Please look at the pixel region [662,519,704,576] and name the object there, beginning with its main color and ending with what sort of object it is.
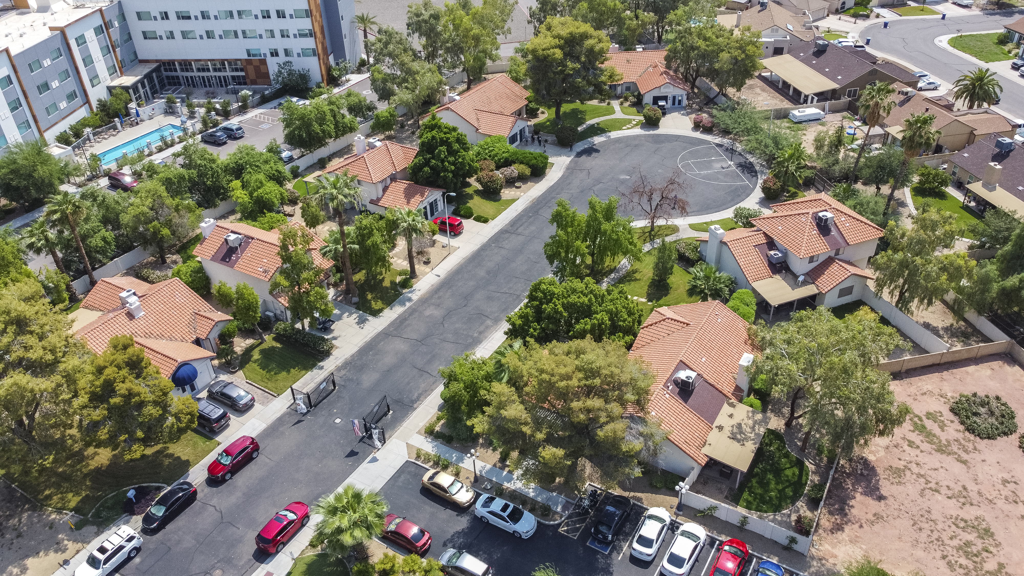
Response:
white car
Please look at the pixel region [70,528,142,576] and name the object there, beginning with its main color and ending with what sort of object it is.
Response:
white car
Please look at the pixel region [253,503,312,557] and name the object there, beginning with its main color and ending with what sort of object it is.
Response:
red car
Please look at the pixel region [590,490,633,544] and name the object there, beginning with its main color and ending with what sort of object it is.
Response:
black car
